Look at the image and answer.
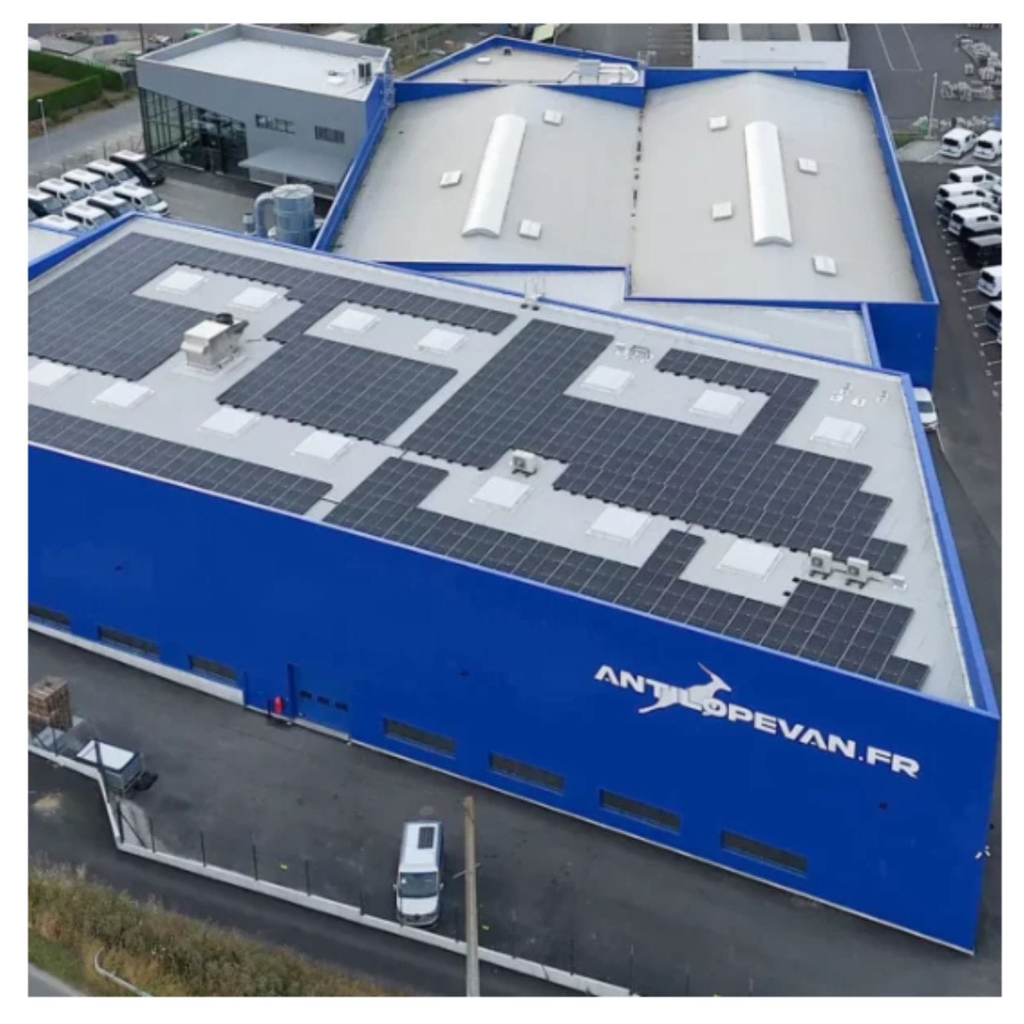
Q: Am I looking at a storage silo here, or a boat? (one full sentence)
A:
It is a storage silo that can be seen here.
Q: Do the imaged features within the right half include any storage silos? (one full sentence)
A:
No, within the right half there is no storage silo.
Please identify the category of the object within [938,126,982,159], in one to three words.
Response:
van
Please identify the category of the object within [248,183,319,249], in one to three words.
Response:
silo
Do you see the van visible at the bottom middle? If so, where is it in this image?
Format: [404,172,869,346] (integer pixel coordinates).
[392,819,445,924]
